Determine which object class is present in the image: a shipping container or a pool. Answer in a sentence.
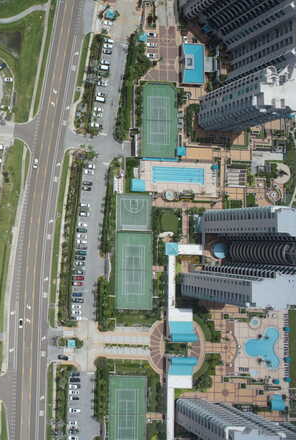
This aerial view contains a pool.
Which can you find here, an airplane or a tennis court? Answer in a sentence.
The image shows a tennis court.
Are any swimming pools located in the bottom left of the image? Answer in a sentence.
No, no swimming pool appears in the bottom left of the image.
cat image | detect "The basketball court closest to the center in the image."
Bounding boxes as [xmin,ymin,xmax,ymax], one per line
[115,194,152,231]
